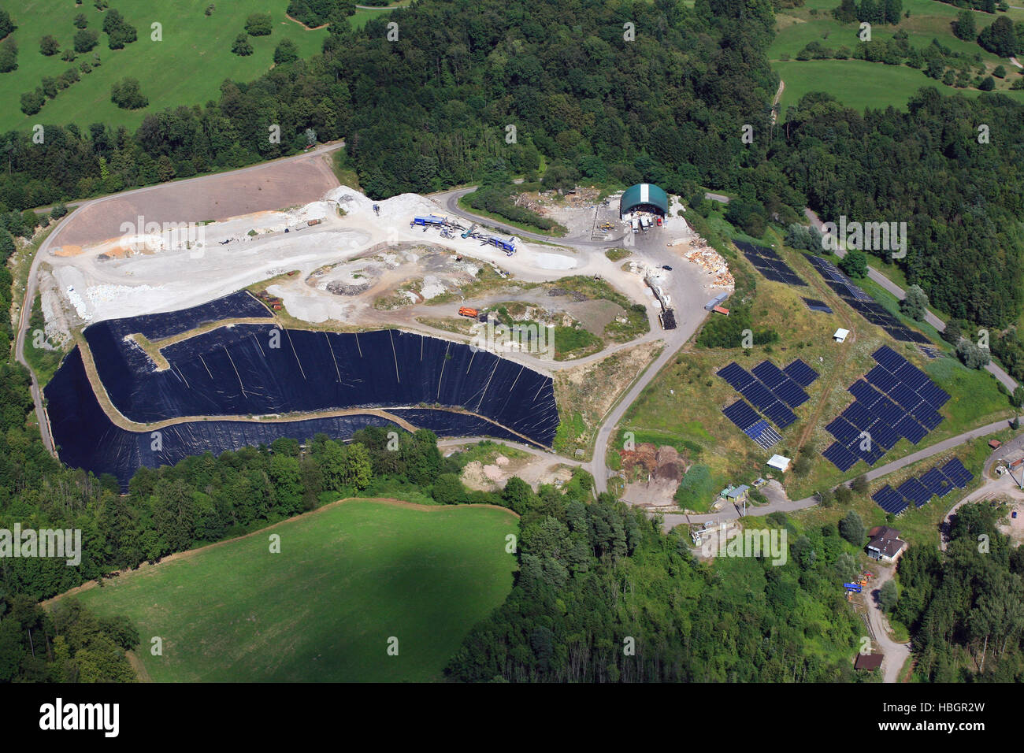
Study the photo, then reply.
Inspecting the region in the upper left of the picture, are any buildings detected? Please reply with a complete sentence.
No, in the upper left of the picture there is no building.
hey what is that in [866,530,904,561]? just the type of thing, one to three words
house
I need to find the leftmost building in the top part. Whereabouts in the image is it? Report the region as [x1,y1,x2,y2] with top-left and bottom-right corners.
[622,181,669,215]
